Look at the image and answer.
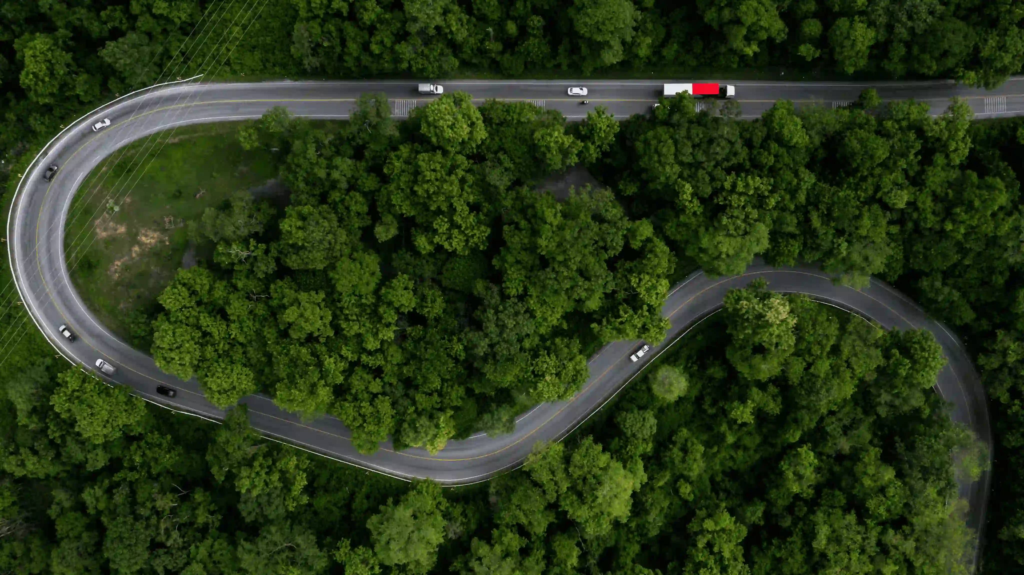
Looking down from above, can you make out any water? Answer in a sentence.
No, there's no water in this view.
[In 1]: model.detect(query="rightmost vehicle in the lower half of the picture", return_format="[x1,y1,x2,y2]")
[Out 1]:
[629,342,651,362]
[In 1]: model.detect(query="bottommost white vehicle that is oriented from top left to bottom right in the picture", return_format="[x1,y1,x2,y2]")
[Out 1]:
[95,359,119,377]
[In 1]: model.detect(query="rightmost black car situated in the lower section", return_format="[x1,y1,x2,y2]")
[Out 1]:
[156,384,177,397]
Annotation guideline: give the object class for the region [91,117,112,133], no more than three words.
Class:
car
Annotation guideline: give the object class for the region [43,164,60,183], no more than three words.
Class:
car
